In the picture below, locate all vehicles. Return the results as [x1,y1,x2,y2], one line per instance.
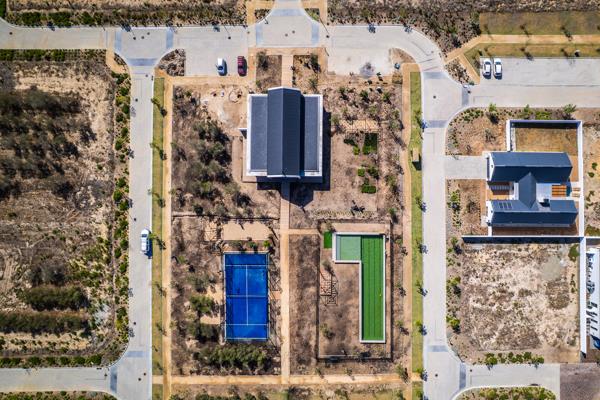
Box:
[139,230,150,252]
[236,56,245,75]
[492,59,503,77]
[216,58,225,75]
[482,59,492,77]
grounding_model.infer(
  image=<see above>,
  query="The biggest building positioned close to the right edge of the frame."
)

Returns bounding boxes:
[486,152,578,225]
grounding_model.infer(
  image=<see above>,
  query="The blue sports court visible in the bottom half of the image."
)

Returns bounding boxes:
[220,252,268,344]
